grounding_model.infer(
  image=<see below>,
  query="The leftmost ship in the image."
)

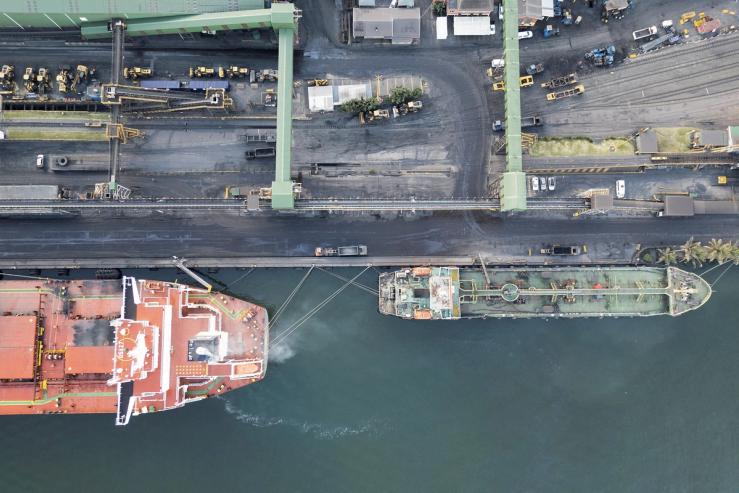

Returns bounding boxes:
[0,276,270,424]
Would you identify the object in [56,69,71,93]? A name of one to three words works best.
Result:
work vehicle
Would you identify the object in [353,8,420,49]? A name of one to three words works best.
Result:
building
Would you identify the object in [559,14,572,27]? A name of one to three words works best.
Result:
vehicle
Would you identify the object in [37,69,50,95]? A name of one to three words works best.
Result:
vehicle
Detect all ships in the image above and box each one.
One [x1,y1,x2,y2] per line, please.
[0,276,270,424]
[377,266,712,319]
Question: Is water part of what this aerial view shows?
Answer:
Yes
